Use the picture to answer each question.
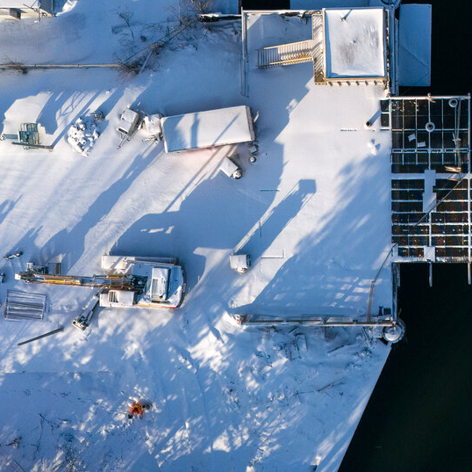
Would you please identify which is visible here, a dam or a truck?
truck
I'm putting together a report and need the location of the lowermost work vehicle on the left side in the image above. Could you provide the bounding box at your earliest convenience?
[13,255,192,310]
